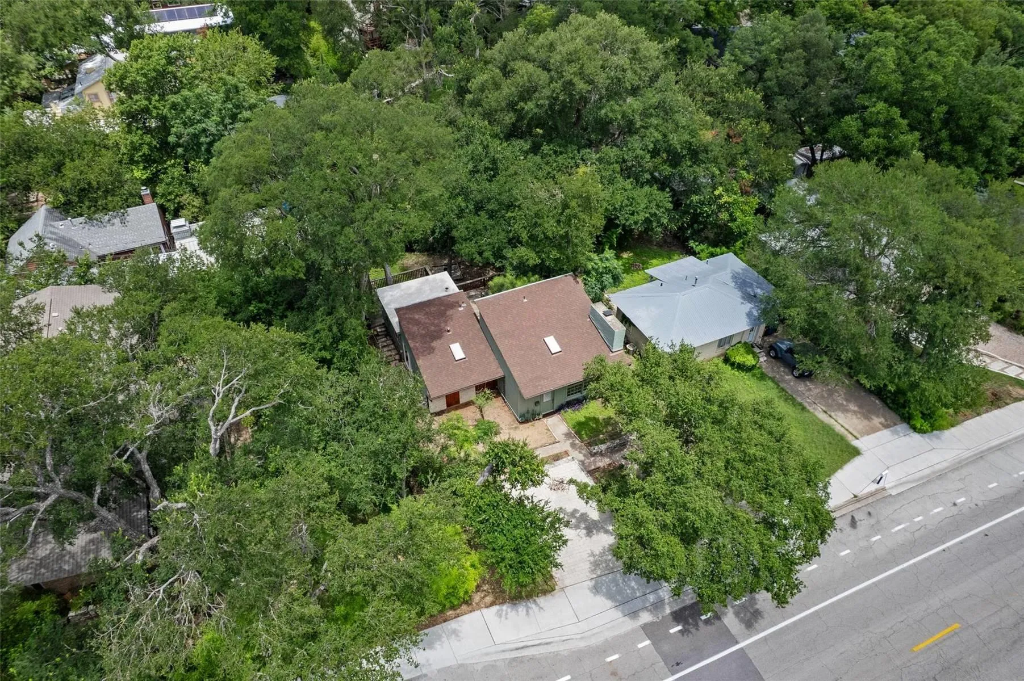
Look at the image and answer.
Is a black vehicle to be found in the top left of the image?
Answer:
No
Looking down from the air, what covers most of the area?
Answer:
trees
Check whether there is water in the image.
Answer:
No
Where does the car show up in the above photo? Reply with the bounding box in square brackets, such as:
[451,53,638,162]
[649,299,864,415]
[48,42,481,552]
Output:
[769,338,824,379]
